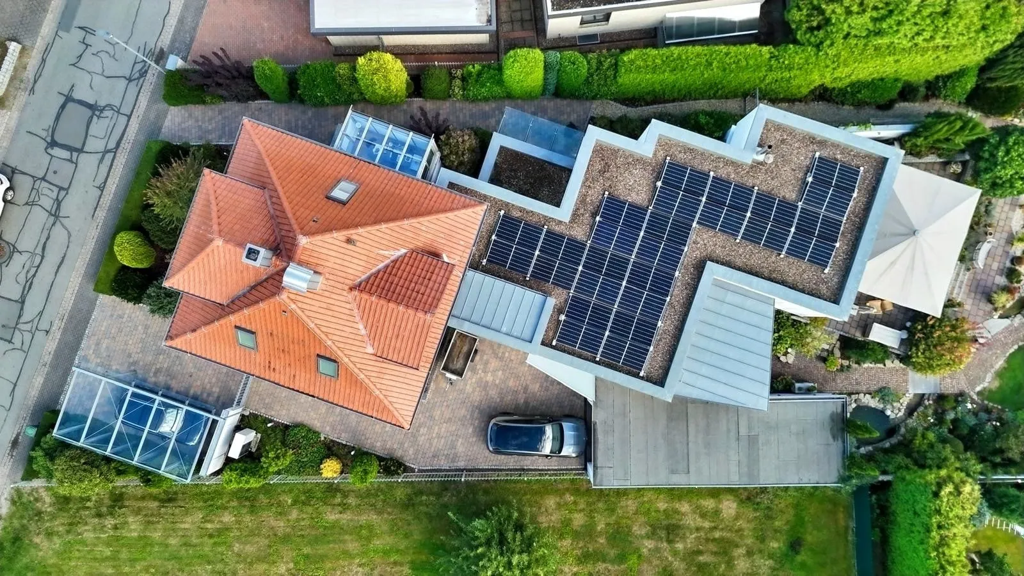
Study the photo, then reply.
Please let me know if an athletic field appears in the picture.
No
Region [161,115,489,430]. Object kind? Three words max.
house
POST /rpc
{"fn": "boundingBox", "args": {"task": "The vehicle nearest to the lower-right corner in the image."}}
[489,412,584,464]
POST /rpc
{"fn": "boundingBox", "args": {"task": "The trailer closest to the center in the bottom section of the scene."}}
[440,330,479,390]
